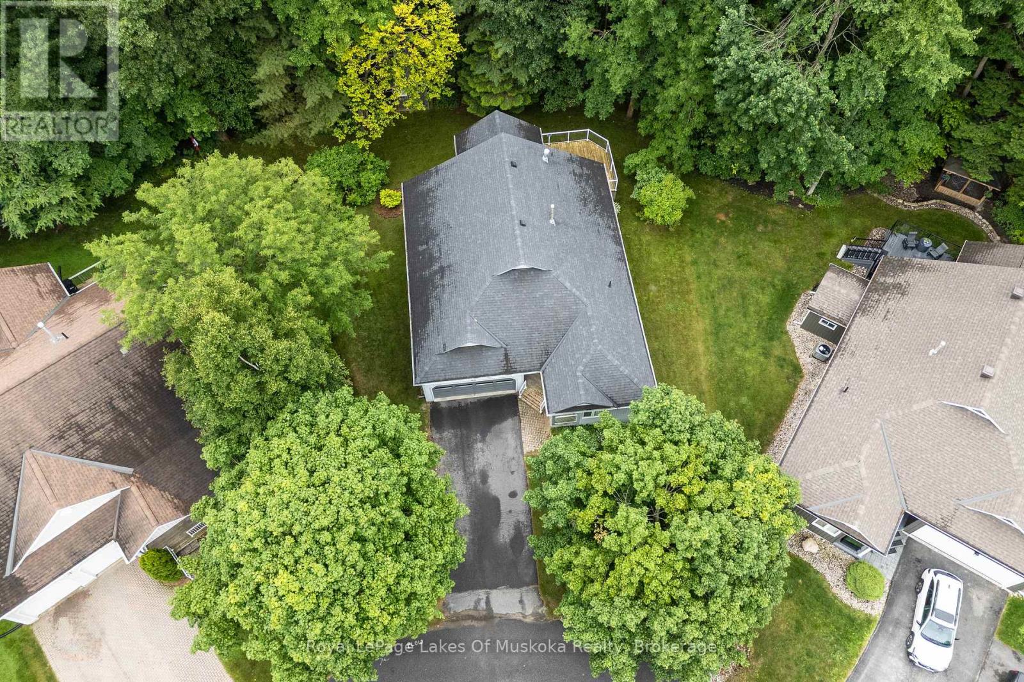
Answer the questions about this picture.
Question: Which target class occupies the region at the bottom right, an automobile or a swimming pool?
automobile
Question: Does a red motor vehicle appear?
No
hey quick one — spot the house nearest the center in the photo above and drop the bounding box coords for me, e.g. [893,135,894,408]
[401,111,662,429]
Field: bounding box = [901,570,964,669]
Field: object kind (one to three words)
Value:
car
